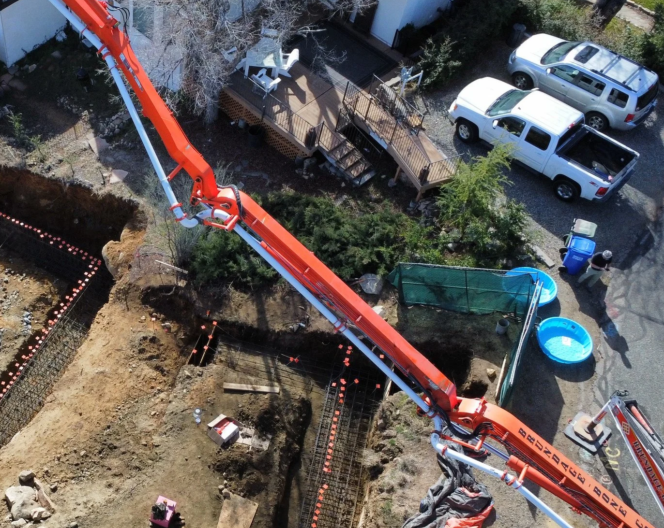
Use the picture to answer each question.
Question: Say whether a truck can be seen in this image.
Yes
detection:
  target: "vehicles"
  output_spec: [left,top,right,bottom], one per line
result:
[48,0,664,528]
[507,30,664,137]
[444,74,649,221]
